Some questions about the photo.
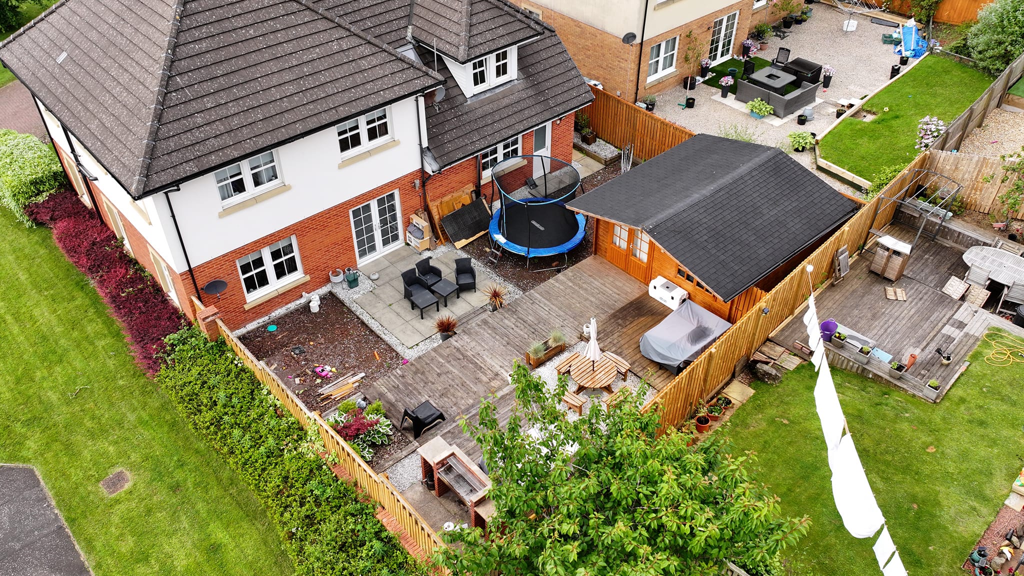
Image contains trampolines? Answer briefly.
Yes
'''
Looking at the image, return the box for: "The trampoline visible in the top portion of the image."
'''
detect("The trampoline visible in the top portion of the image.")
[485,158,591,272]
